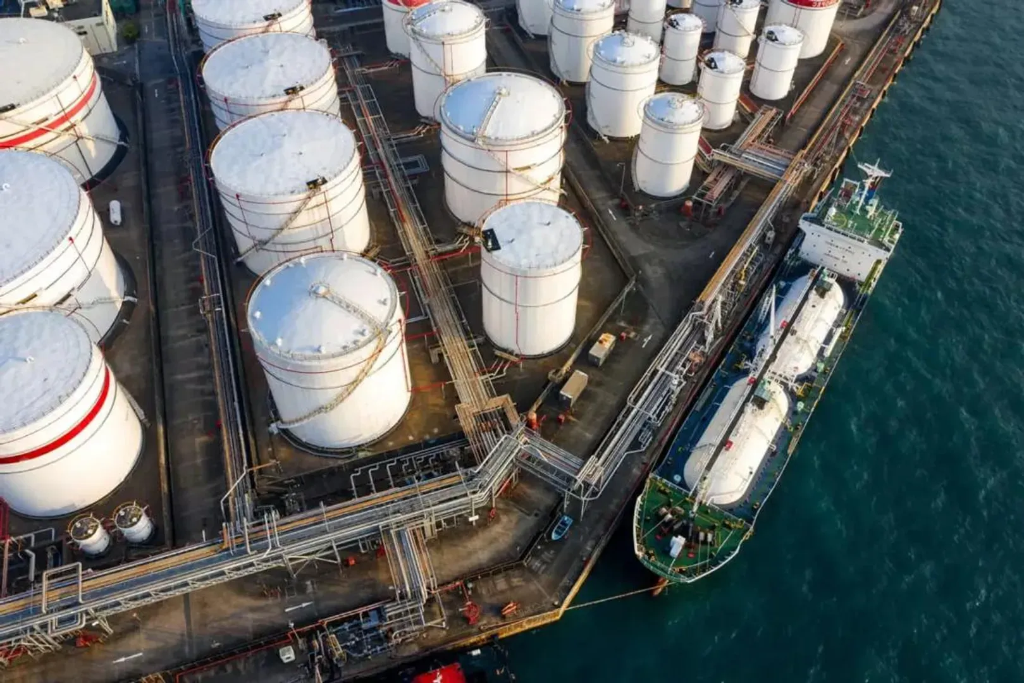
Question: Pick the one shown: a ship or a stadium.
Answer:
ship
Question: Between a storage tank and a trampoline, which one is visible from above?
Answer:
storage tank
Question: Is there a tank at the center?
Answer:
Yes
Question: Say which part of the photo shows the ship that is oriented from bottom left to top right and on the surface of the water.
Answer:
right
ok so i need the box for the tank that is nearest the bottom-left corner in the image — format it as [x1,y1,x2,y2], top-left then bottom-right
[66,511,112,556]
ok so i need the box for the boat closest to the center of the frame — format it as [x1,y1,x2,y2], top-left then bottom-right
[552,512,574,537]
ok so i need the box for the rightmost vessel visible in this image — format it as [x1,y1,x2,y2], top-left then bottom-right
[628,149,909,595]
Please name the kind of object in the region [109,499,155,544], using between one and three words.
storage tank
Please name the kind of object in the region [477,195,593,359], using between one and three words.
storage tank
